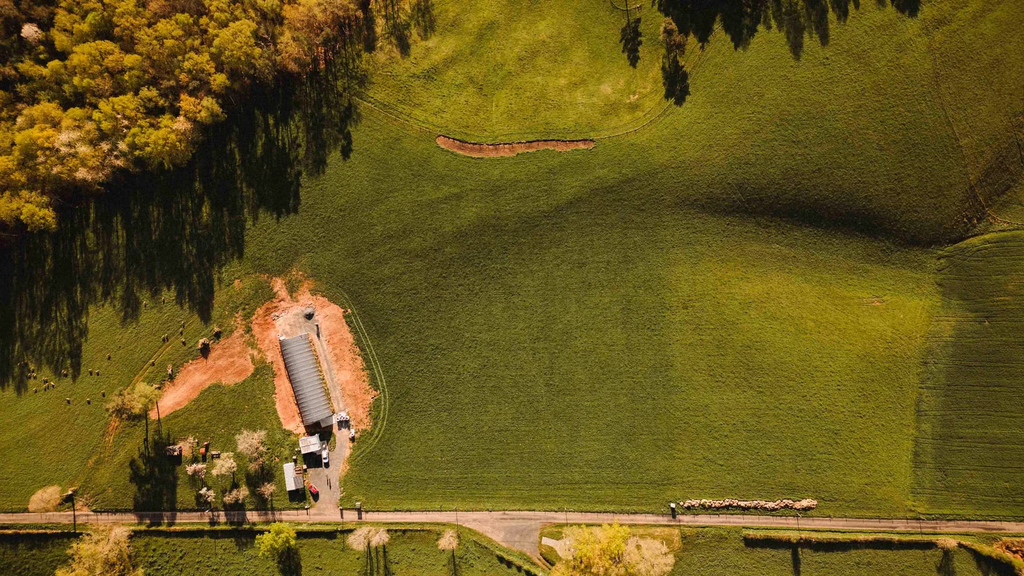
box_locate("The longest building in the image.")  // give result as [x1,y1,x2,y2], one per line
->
[279,333,336,426]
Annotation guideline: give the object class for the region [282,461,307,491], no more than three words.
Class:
shed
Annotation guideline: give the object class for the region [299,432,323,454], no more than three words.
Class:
shed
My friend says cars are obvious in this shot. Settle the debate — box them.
[323,451,331,464]
[307,484,319,496]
